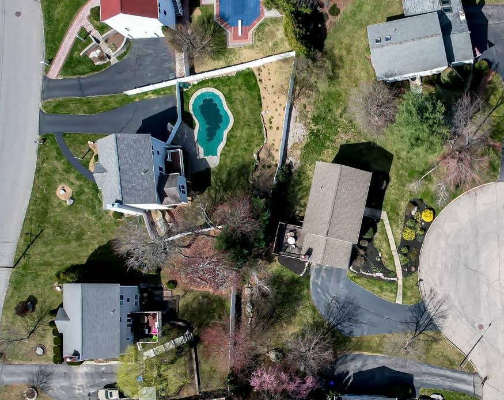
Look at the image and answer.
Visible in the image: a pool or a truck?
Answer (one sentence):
The image shows a pool.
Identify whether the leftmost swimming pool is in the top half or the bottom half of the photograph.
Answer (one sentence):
You can find the leftmost swimming pool in the top half.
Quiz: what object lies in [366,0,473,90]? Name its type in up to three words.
house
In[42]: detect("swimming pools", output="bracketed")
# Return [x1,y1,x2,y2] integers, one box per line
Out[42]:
[214,0,265,43]
[189,87,234,159]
